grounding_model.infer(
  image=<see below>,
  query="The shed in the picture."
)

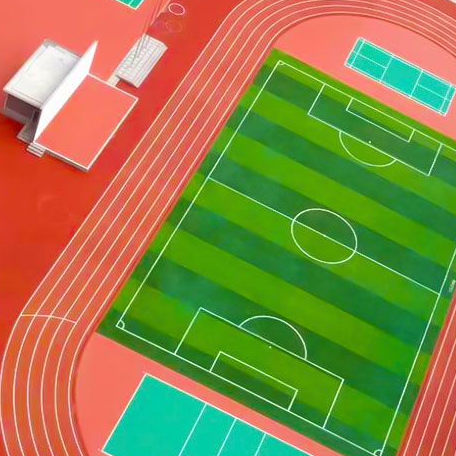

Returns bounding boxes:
[0,37,83,146]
